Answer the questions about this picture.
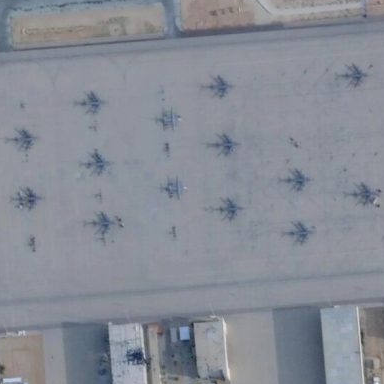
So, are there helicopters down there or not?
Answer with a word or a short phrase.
No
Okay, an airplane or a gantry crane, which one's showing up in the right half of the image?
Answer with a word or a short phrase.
airplane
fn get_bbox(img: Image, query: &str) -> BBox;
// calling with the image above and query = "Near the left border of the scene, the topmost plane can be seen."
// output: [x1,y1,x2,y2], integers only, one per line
[16,129,40,150]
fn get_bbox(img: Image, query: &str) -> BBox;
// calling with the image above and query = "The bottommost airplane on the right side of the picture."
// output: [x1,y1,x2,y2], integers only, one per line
[291,222,315,245]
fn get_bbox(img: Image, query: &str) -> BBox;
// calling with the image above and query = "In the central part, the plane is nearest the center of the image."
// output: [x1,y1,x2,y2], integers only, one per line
[166,177,183,199]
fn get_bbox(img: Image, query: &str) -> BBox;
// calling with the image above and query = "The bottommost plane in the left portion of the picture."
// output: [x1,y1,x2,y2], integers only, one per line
[93,213,117,235]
